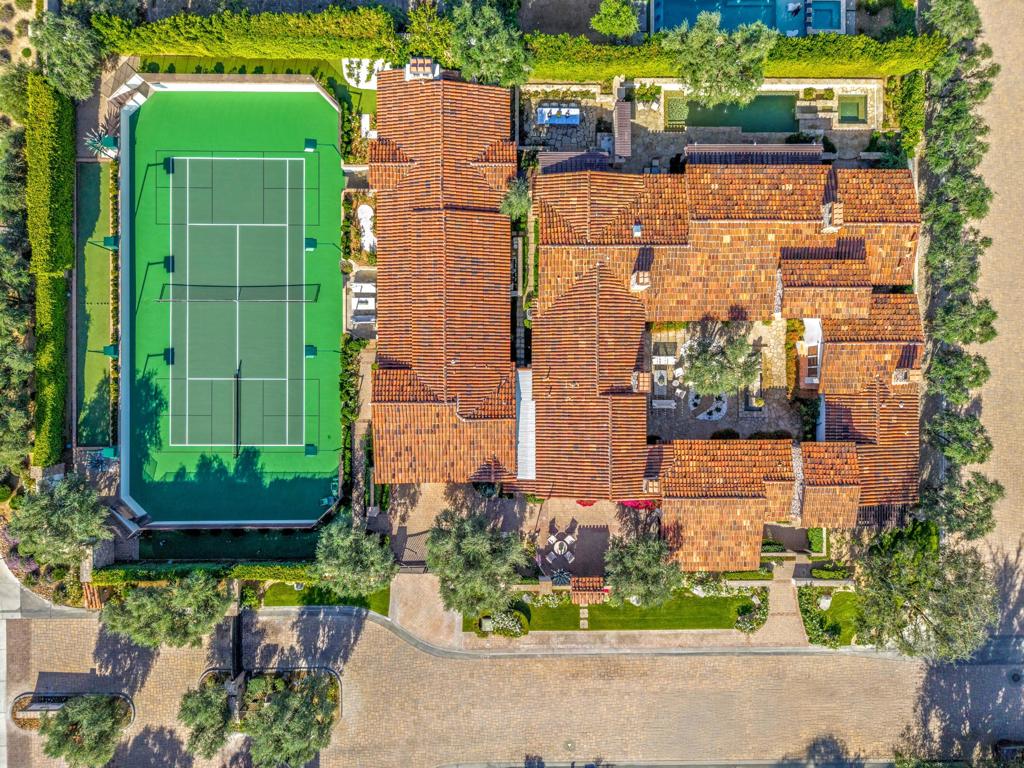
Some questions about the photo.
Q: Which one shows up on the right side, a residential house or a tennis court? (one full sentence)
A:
Looking on the right side, you will find a residential house.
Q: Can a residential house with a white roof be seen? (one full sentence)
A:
No, there is no residential house with a white roof in the image.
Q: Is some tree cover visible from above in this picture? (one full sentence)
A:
Yes, tree cover can be seen from above here.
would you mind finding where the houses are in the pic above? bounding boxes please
[368,57,518,484]
[503,164,925,572]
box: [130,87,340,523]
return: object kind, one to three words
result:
tennis court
